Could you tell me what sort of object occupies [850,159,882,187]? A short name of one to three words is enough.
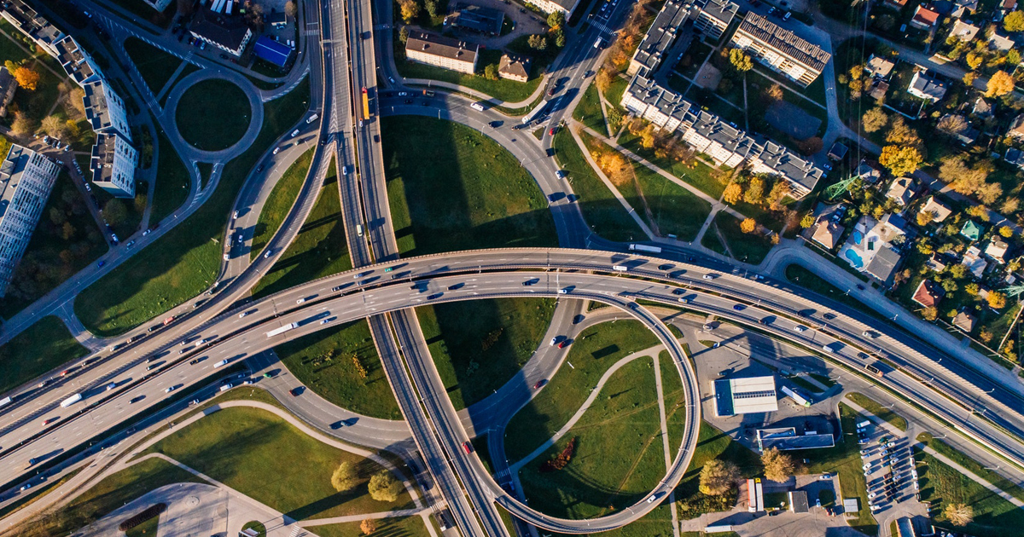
house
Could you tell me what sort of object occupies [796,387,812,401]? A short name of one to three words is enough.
vehicle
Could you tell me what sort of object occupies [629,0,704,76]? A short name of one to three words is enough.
building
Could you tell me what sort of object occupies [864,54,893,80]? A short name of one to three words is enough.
house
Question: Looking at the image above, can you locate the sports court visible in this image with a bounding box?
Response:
[764,99,822,139]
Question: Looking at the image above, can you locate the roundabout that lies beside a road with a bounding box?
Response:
[164,69,261,160]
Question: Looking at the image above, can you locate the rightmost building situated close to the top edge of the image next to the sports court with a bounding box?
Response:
[732,10,831,84]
